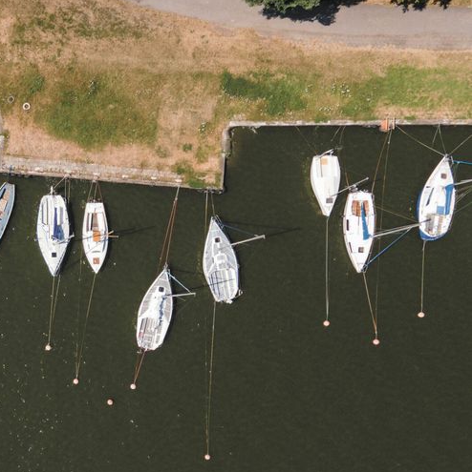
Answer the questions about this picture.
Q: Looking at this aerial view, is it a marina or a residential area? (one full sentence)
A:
It's a marina.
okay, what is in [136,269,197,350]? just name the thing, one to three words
boat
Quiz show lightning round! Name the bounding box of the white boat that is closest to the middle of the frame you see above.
[202,217,265,305]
